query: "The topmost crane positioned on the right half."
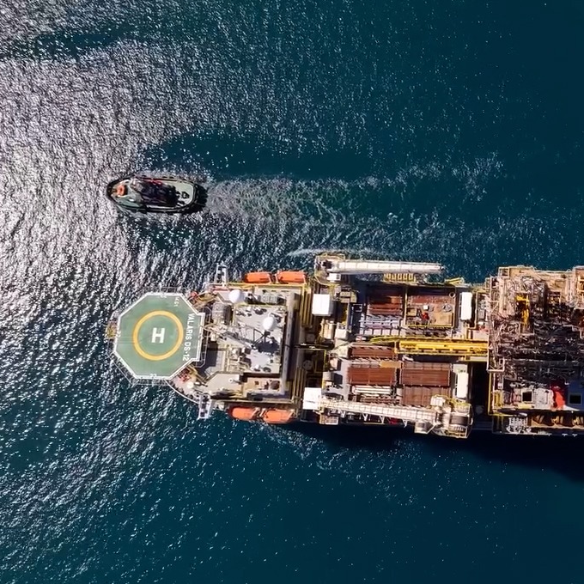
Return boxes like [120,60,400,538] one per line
[305,256,447,289]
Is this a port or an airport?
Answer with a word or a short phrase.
port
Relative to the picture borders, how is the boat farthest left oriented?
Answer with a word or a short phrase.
from side to side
